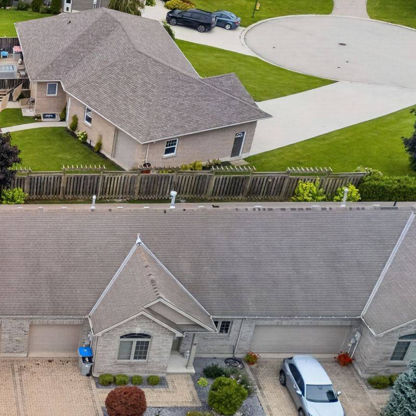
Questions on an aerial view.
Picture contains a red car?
No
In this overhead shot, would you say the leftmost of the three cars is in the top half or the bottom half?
top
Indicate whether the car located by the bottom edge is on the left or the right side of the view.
right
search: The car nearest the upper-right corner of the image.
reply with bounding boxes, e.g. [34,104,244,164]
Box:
[214,11,244,29]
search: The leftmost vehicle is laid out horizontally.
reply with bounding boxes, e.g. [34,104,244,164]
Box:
[170,8,219,32]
